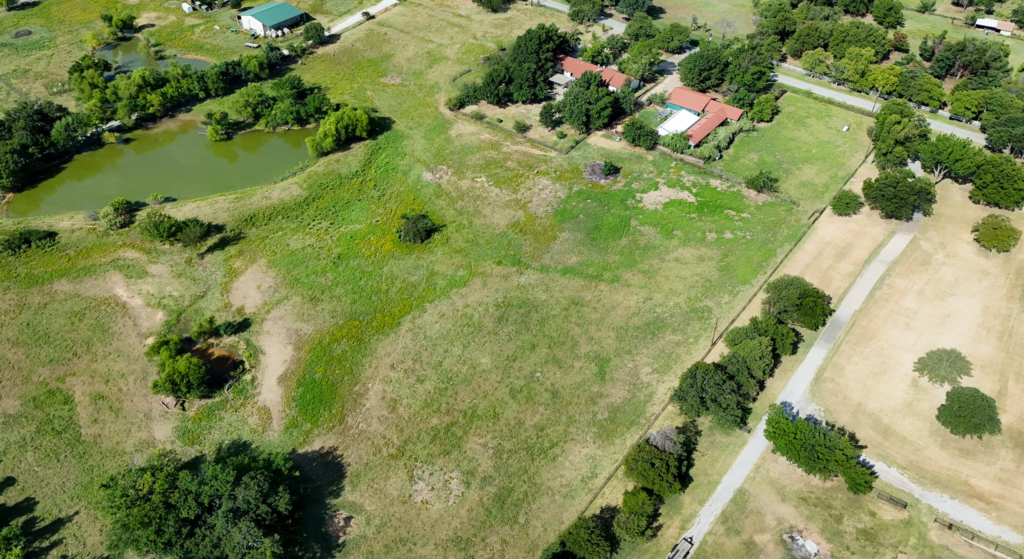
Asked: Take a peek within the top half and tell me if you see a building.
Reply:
Yes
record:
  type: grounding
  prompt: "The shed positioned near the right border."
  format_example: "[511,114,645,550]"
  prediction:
[976,16,1018,37]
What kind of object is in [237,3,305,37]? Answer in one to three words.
barn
